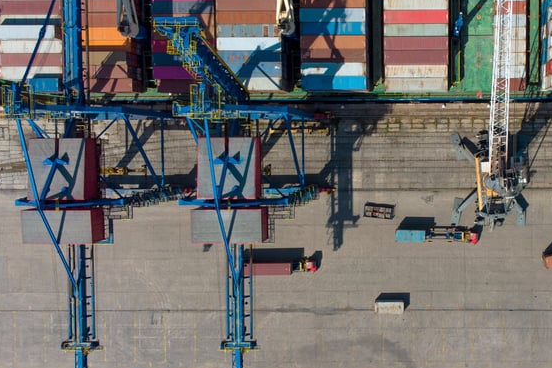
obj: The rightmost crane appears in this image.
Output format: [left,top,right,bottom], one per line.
[450,0,532,226]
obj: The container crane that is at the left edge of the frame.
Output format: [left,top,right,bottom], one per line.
[2,0,197,368]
